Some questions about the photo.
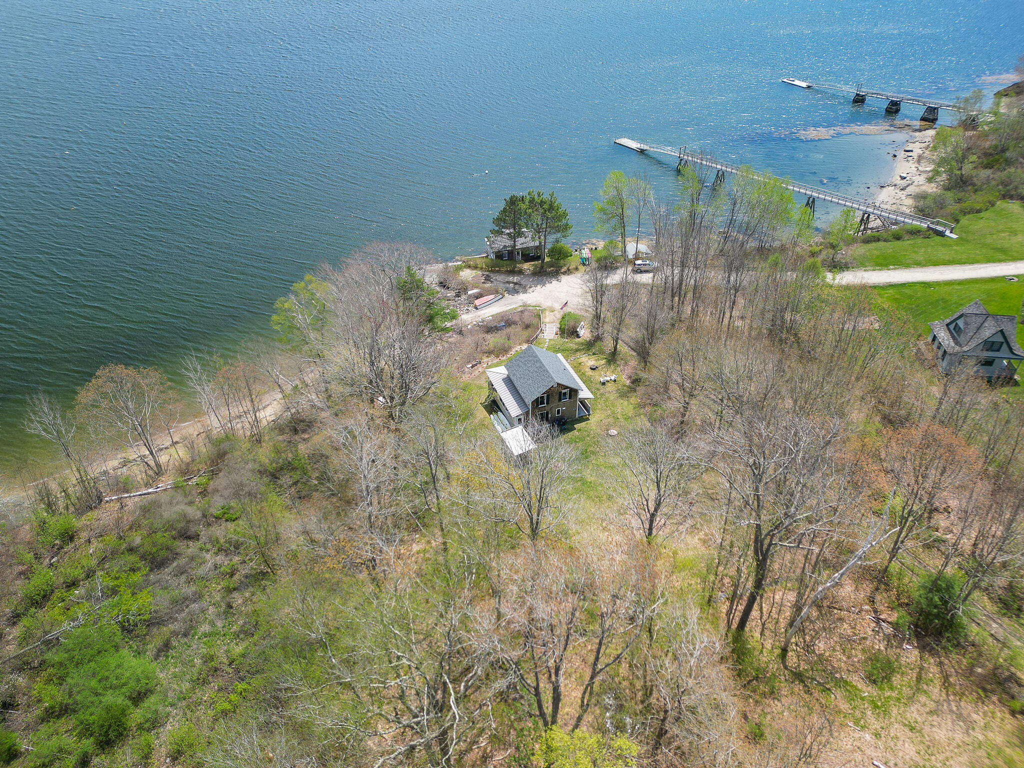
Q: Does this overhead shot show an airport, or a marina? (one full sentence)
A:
What you see here is a marina.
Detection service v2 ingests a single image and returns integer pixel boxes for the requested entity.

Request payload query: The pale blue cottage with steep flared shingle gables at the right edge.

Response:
[925,299,1024,379]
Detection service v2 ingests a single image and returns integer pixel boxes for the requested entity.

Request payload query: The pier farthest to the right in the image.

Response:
[850,82,1017,122]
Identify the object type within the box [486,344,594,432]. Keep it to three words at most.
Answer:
house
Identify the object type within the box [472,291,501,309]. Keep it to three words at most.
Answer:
boat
